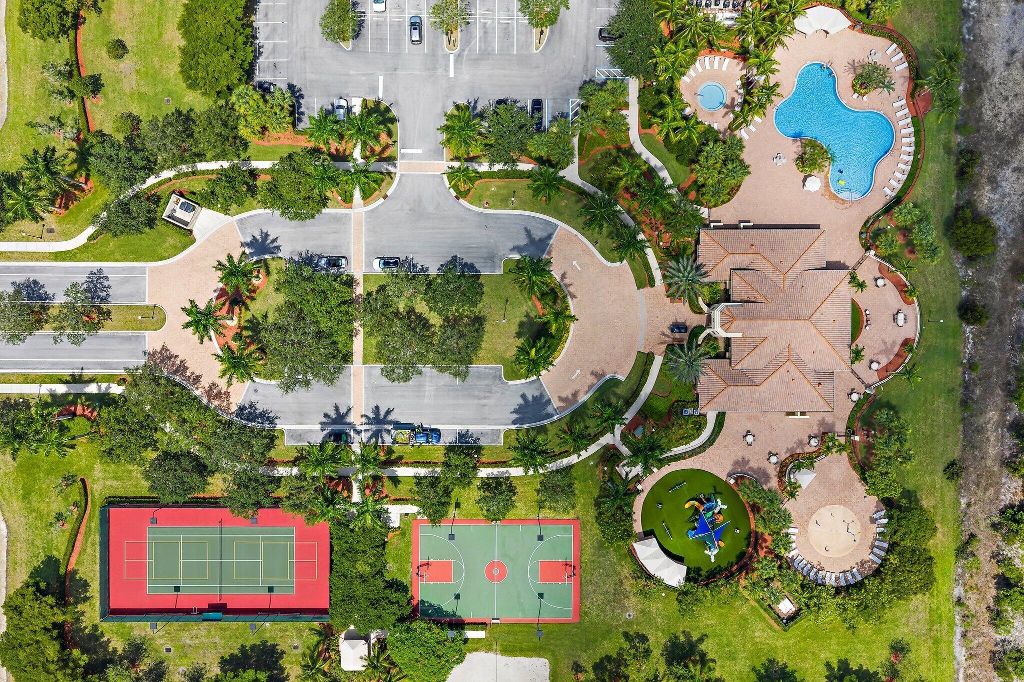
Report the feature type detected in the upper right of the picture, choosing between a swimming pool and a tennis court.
swimming pool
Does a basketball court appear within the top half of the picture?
No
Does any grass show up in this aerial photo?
Yes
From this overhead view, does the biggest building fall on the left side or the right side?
right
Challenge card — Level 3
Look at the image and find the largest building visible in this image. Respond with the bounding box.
[697,229,852,412]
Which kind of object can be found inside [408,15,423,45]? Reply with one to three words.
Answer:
vehicle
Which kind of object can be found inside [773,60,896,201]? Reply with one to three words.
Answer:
swimming pool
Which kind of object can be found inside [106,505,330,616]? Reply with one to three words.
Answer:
tennis court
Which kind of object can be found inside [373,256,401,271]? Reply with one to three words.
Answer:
car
